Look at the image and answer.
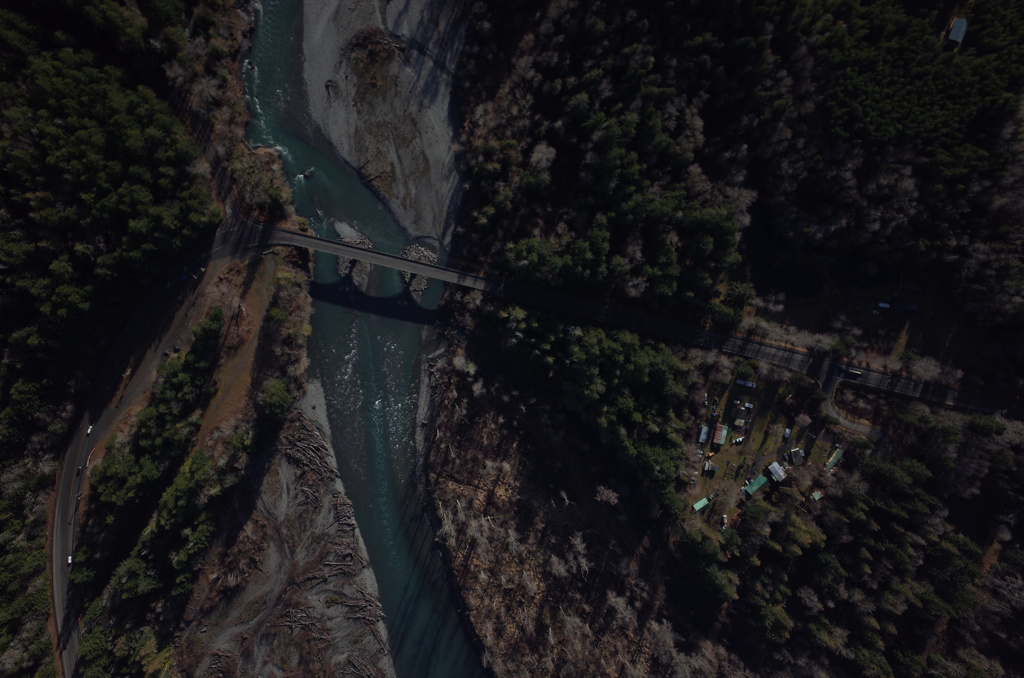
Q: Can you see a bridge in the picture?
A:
Yes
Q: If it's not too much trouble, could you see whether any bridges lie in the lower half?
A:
No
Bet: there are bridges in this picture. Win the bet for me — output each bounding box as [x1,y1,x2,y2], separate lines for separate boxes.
[288,231,488,290]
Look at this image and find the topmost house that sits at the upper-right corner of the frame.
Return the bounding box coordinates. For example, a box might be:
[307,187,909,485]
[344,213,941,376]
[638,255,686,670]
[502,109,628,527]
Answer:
[945,19,967,45]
